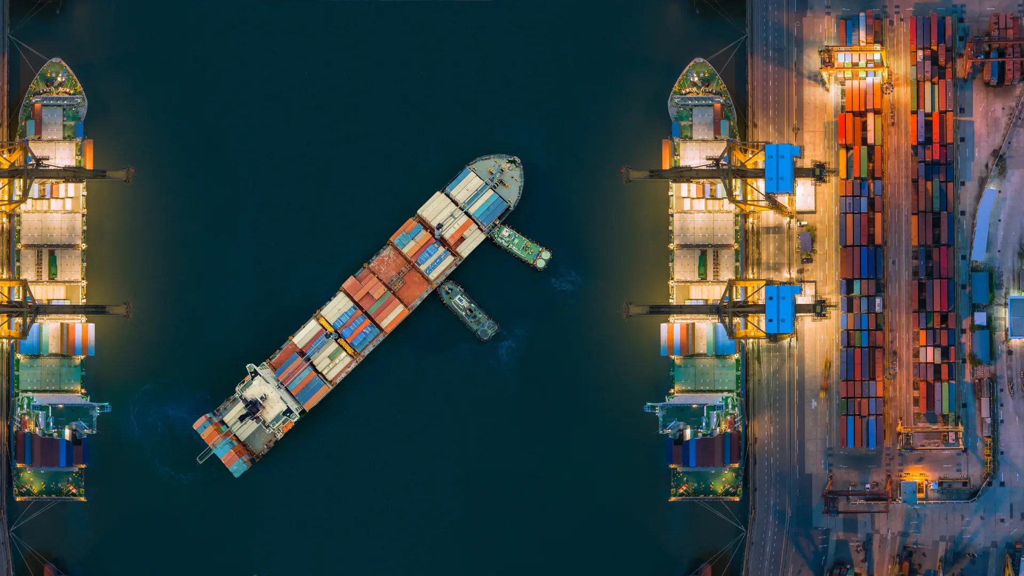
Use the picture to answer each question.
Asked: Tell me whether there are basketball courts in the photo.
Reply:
No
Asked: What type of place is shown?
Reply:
port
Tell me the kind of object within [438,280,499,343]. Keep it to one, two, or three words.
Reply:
boat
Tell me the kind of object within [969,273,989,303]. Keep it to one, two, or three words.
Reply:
building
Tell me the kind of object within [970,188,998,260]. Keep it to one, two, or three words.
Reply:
shed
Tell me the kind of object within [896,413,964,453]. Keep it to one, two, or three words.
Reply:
container crane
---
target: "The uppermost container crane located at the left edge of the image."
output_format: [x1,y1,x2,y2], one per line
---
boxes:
[0,139,134,223]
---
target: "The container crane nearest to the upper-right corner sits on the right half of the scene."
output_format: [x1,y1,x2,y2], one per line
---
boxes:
[964,39,1024,86]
